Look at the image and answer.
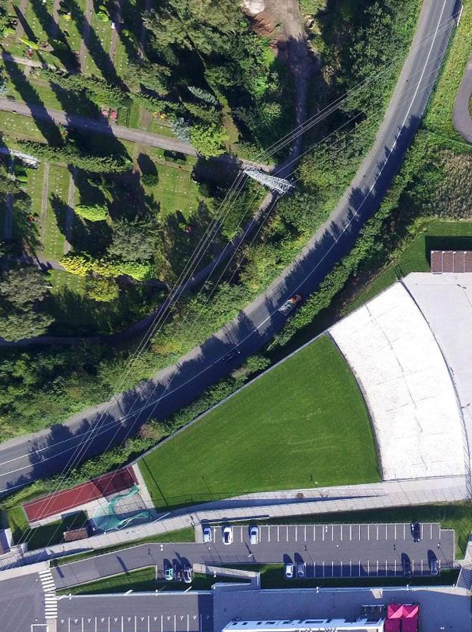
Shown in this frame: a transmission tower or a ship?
transmission tower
